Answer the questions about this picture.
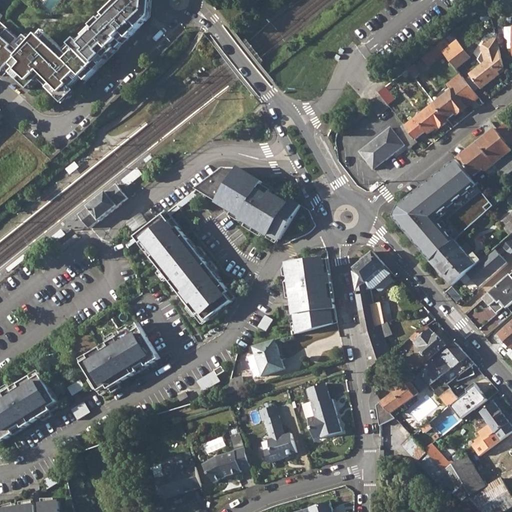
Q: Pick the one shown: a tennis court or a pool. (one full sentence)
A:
I can see a pool in this picture.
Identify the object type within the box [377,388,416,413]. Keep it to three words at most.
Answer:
house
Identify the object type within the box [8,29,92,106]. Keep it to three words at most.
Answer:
building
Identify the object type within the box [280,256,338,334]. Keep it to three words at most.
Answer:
building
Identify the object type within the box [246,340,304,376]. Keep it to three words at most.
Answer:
house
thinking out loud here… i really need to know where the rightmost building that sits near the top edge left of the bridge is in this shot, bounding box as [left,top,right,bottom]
[76,0,156,80]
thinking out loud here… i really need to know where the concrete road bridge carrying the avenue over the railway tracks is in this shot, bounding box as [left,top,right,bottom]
[180,0,296,120]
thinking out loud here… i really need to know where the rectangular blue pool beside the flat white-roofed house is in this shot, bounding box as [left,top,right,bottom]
[433,410,461,436]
